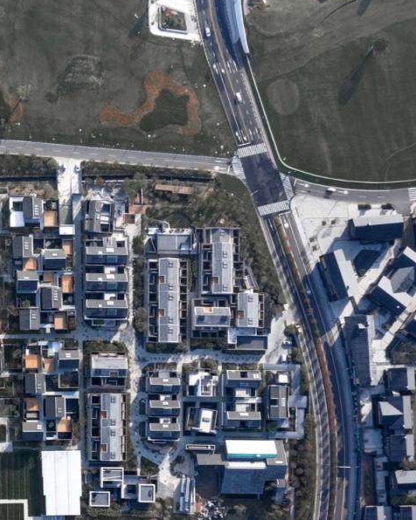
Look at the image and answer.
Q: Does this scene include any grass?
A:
Yes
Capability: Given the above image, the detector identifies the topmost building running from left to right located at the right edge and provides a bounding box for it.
[348,215,404,242]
